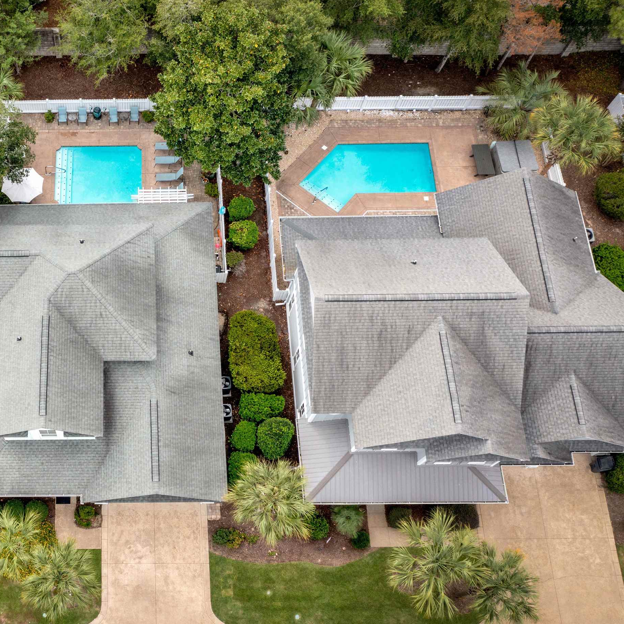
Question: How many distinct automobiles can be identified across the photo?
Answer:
0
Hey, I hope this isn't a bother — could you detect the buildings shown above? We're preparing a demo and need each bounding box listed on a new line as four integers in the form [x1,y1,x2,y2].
[278,172,624,507]
[0,202,228,507]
